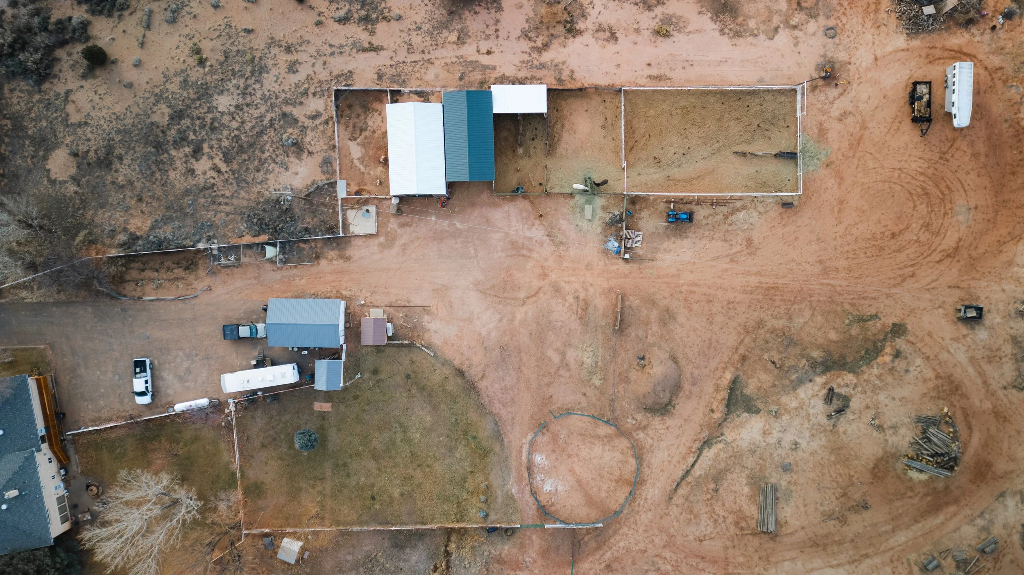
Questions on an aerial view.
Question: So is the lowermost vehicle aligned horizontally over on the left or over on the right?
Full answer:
You can find the lowermost vehicle aligned horizontally on the left side of the picture.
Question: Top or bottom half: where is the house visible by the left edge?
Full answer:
The house visible by the left edge sits in the bottom half of the picture.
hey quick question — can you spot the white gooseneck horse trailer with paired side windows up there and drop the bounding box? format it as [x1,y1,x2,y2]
[942,62,973,130]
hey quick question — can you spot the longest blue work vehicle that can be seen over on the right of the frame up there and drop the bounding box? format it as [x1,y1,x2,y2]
[667,209,696,224]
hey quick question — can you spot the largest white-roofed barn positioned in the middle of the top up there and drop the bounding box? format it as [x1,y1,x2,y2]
[386,102,448,200]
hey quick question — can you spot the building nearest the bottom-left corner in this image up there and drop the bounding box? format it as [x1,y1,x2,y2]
[0,374,74,555]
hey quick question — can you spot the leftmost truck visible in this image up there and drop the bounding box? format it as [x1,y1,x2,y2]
[131,358,156,405]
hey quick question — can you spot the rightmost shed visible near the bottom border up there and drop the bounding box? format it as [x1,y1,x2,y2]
[277,536,305,564]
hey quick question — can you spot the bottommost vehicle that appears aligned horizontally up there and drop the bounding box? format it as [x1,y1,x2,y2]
[222,361,313,393]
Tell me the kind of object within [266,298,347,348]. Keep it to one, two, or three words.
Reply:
building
